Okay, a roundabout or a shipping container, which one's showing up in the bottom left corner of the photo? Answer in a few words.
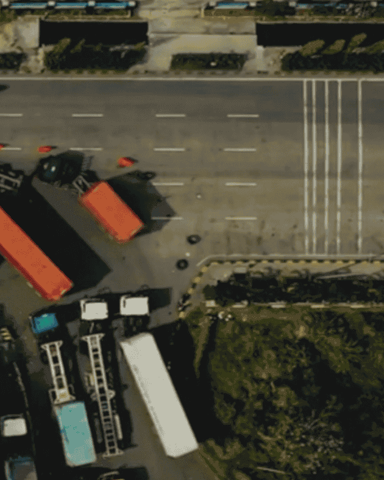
shipping container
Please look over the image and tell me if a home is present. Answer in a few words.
No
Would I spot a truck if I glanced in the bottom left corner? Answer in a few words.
Yes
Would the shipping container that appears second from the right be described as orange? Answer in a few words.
Yes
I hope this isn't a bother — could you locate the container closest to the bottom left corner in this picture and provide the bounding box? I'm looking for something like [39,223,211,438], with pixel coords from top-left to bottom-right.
[51,400,93,466]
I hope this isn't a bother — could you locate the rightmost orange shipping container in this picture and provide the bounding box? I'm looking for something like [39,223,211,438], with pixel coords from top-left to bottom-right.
[76,181,142,245]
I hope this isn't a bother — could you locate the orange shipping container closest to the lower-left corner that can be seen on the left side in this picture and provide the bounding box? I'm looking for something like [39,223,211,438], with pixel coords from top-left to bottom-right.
[0,209,72,301]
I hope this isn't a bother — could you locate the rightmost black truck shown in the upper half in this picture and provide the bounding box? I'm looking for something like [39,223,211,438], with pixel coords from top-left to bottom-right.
[34,150,99,197]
